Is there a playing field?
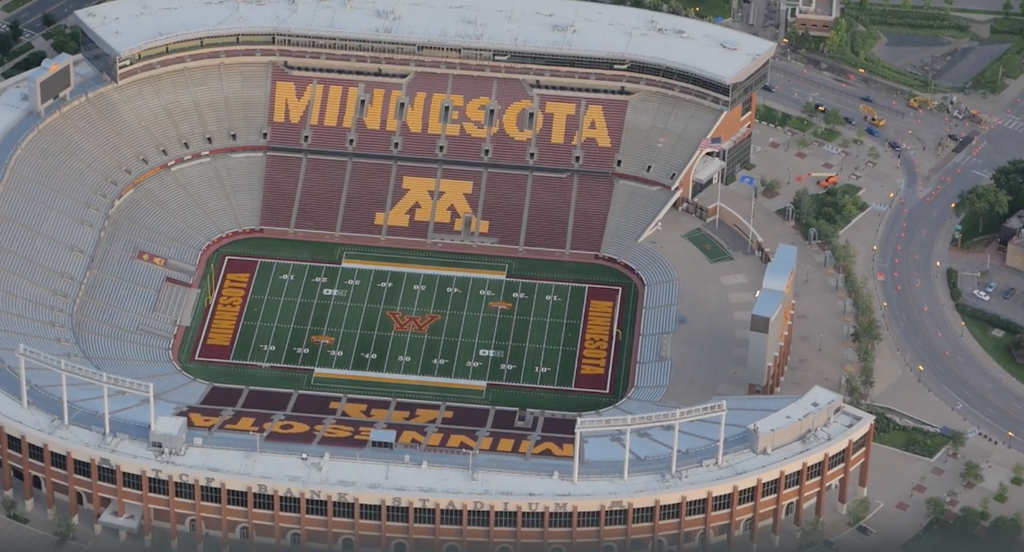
Yes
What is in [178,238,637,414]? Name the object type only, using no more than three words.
sports field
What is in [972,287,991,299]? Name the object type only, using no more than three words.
vehicle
